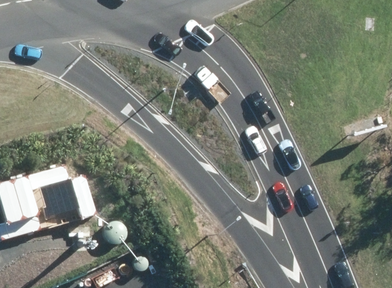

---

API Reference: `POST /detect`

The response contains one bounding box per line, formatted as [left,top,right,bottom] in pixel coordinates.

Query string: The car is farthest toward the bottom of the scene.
[332,260,353,288]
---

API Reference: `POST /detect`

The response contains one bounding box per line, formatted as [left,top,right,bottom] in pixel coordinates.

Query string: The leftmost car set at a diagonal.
[150,32,181,59]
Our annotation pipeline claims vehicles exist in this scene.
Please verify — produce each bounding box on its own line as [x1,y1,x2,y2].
[150,32,181,59]
[14,44,42,60]
[271,181,293,213]
[298,184,318,212]
[248,92,276,125]
[194,66,230,103]
[184,20,214,46]
[332,260,353,288]
[278,138,300,171]
[244,126,268,156]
